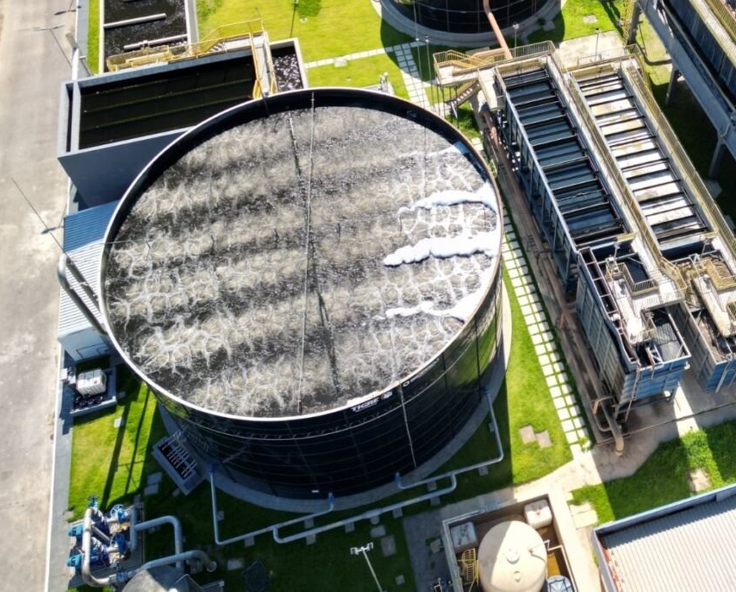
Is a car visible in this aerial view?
No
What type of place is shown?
industrial area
